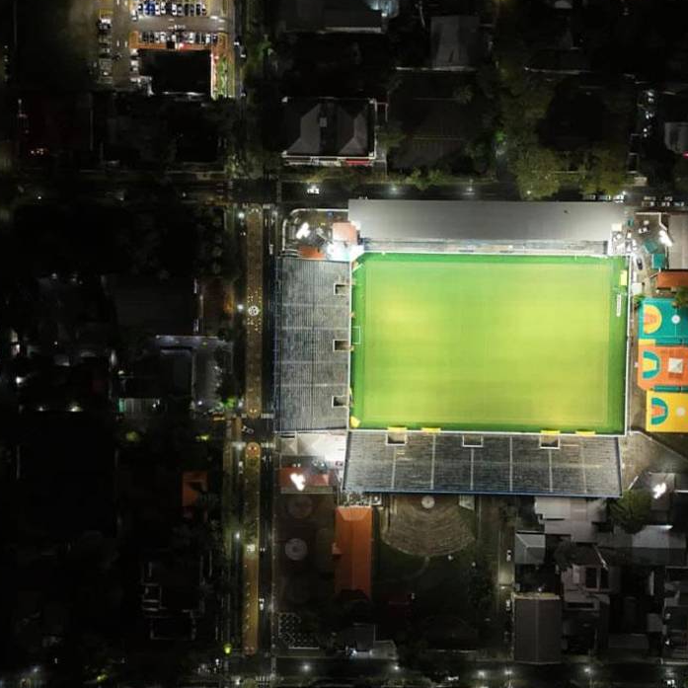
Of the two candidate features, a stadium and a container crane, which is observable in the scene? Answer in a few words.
stadium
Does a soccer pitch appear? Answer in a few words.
Yes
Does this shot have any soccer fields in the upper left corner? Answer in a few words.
No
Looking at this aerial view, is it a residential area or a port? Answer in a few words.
residential area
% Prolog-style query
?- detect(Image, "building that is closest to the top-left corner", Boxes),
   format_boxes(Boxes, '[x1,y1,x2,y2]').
[19,94,94,157]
